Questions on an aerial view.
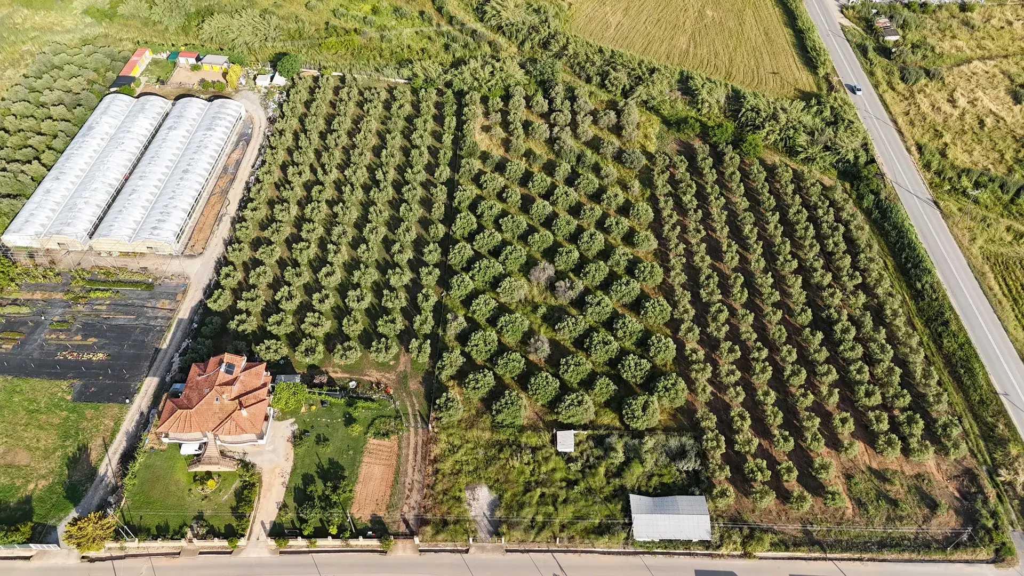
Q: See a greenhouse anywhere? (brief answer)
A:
Yes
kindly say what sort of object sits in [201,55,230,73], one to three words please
shed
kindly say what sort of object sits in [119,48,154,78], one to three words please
building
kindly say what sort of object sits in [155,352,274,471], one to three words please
house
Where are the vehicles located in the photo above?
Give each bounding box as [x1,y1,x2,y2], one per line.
[853,84,864,95]
[175,445,204,456]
